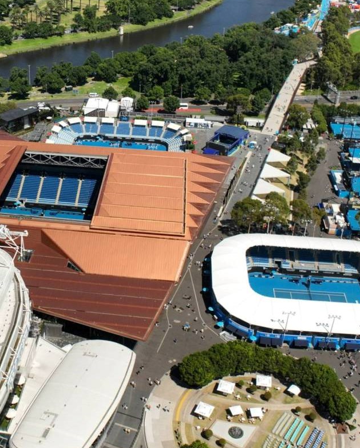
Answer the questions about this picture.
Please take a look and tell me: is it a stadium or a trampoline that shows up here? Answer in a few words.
stadium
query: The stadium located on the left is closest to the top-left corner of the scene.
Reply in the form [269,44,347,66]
[46,116,194,153]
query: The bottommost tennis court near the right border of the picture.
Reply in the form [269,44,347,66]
[248,272,360,304]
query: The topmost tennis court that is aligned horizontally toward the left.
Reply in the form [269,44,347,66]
[78,139,168,152]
